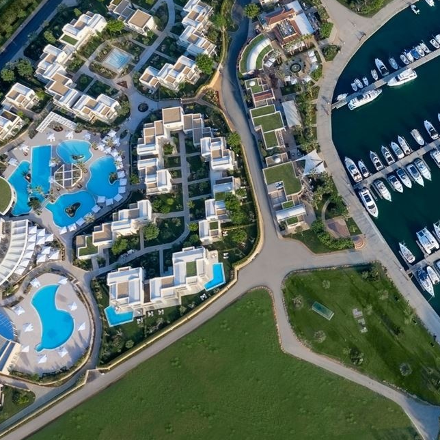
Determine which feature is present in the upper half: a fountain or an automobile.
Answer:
fountain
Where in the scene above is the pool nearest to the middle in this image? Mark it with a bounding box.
[203,262,226,290]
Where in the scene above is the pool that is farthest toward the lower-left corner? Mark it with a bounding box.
[32,283,76,350]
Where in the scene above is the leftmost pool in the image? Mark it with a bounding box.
[6,158,32,217]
